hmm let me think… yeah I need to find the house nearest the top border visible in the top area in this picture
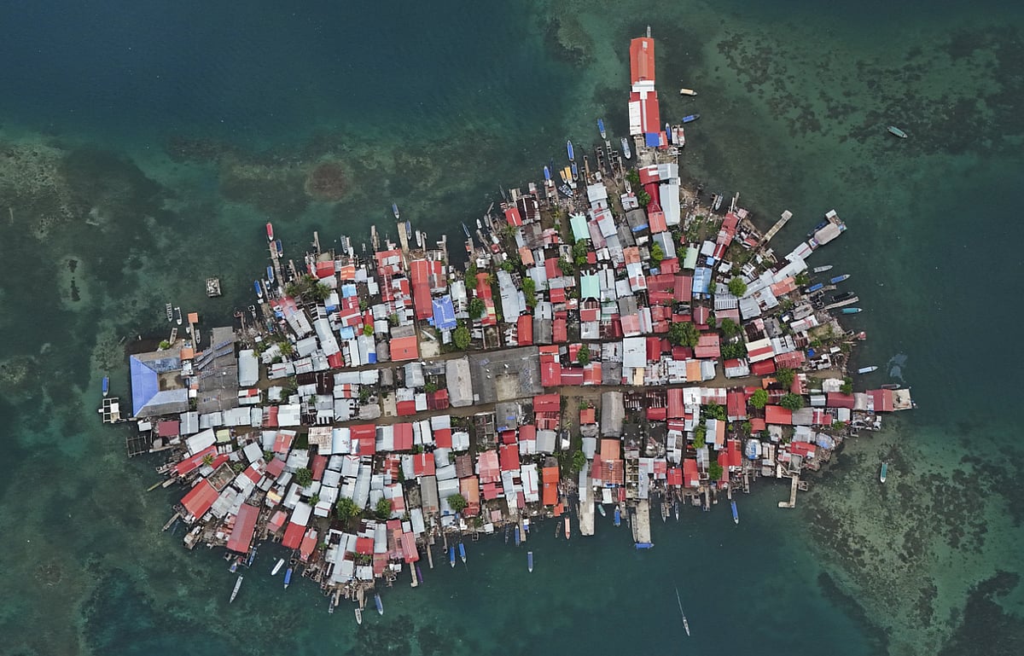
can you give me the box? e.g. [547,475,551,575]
[628,35,655,84]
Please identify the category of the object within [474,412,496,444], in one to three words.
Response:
building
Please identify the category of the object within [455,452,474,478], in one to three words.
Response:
house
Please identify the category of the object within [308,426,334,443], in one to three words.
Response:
house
